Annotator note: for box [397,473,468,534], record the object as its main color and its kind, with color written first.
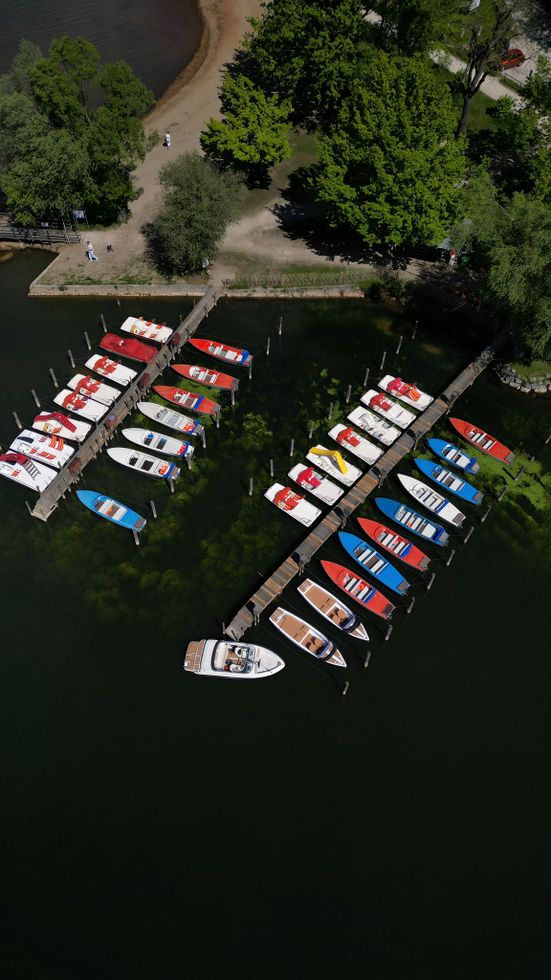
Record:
white boat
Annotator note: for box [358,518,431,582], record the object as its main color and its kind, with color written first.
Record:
red boat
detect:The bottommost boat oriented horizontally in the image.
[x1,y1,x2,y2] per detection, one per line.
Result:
[183,637,285,680]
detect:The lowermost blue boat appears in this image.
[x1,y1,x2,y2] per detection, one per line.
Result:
[339,530,411,606]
